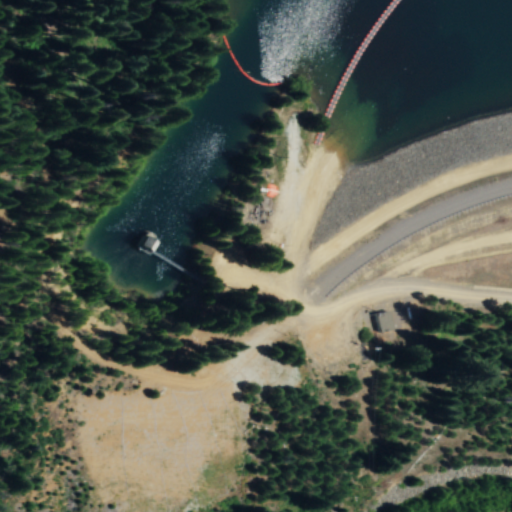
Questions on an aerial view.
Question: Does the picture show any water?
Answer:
Yes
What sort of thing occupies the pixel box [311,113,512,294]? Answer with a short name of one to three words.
dam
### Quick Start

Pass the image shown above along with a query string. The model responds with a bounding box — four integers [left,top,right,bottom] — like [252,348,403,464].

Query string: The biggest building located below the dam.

[378,312,396,332]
